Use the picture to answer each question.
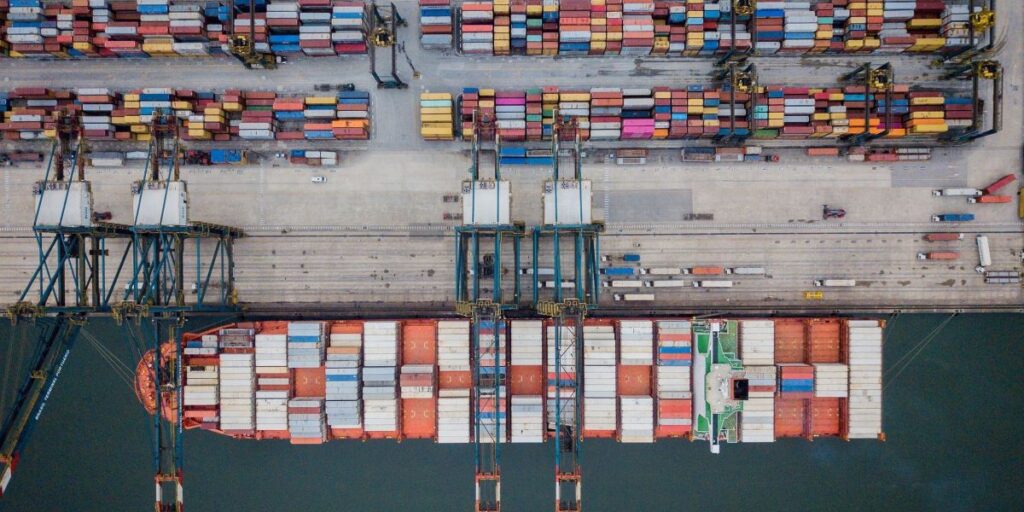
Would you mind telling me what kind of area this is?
port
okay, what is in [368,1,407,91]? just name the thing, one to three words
container crane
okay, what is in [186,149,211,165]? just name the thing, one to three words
work vehicle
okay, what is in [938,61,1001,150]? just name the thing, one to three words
container crane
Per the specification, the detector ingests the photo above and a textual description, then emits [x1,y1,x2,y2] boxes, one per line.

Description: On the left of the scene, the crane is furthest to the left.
[0,116,171,497]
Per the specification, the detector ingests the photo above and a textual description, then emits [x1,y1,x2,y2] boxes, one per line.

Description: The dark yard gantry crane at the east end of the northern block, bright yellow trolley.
[934,0,997,70]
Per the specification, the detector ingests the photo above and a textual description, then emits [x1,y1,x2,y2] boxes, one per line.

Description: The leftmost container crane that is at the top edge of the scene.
[227,0,275,70]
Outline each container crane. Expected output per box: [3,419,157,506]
[712,64,758,150]
[938,61,1001,150]
[368,1,407,91]
[934,0,997,70]
[0,116,171,497]
[454,116,532,512]
[112,116,257,512]
[227,0,275,70]
[837,64,893,150]
[522,116,612,512]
